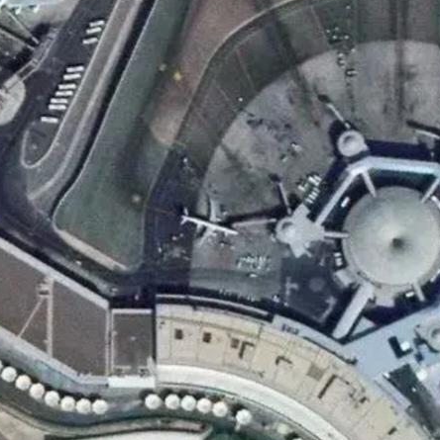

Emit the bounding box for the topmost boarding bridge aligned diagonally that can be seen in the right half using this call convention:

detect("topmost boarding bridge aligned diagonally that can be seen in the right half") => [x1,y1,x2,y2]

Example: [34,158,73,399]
[323,98,347,132]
